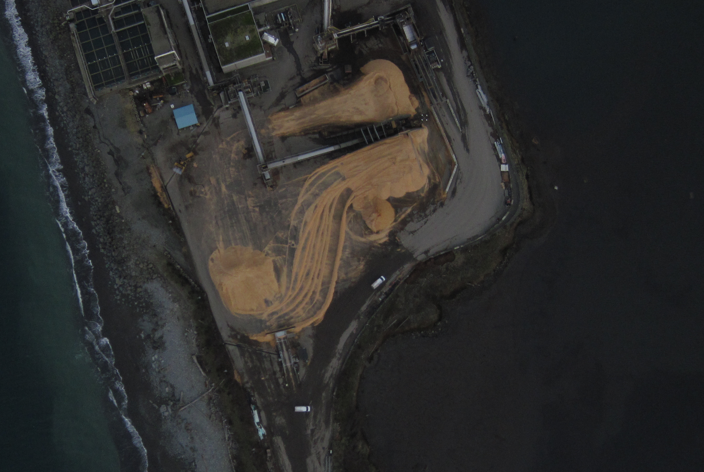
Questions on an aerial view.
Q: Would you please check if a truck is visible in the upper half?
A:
Yes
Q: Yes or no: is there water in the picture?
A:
Yes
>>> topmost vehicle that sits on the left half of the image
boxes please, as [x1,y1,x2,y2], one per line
[263,33,278,47]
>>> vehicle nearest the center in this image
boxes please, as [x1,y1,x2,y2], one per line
[370,275,386,290]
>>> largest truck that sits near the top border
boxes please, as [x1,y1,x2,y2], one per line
[391,7,443,107]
